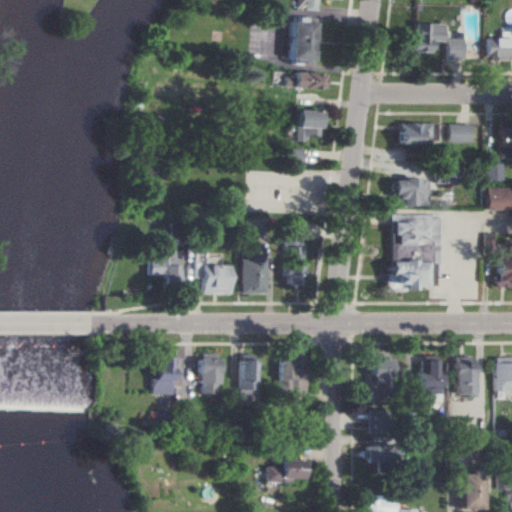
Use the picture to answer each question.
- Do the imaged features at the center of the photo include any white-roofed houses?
Yes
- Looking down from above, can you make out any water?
Yes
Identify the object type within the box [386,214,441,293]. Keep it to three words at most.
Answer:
building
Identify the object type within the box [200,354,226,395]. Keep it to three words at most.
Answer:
house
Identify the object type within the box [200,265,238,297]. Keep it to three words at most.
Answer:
house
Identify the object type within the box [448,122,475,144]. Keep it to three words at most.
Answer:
building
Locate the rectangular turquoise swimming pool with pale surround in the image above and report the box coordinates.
[461,5,480,58]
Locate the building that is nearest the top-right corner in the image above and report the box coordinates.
[484,30,512,62]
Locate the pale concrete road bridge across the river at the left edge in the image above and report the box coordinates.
[0,311,93,336]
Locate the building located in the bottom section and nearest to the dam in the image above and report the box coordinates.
[149,358,186,396]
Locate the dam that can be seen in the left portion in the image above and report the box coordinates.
[0,384,94,414]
